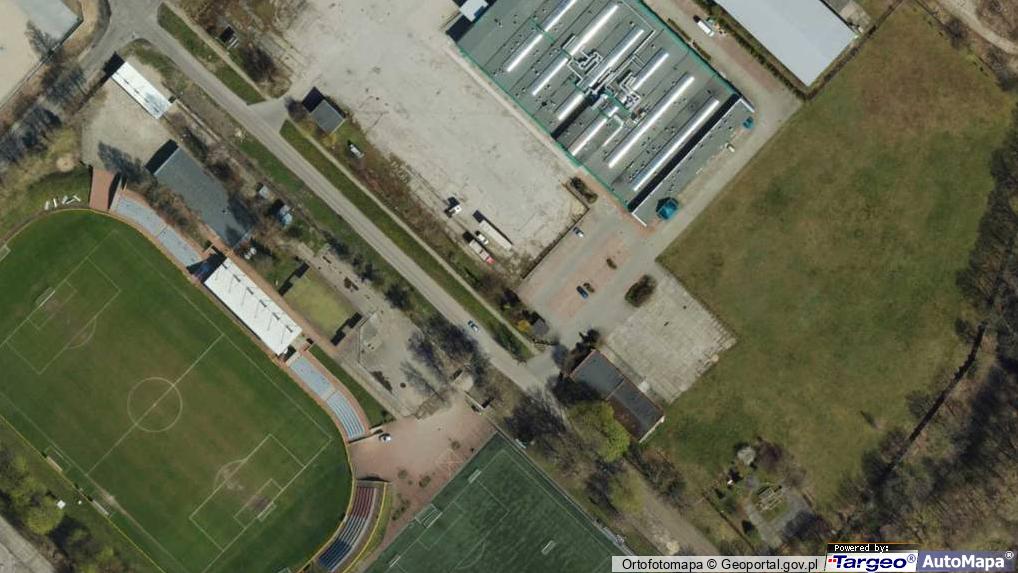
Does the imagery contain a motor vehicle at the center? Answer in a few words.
Yes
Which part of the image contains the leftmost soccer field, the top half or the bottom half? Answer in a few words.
bottom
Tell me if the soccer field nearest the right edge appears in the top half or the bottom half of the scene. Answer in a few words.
bottom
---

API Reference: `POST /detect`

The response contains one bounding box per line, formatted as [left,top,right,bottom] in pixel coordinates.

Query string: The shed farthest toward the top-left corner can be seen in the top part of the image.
[111,61,171,118]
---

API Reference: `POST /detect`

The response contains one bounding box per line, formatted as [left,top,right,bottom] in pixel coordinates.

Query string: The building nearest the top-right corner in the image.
[714,0,858,86]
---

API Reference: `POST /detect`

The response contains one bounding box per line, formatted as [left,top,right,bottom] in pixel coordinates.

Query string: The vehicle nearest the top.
[698,19,713,35]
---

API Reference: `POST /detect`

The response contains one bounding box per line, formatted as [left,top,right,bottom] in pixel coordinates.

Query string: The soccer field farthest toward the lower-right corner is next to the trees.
[367,436,654,573]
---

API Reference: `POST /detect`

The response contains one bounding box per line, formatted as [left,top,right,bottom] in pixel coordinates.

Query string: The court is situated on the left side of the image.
[283,267,362,342]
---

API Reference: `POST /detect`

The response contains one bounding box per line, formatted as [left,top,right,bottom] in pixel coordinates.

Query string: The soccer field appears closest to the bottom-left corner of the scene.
[0,209,351,573]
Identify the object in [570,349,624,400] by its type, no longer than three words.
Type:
house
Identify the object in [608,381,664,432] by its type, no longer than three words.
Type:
building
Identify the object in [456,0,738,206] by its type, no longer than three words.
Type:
building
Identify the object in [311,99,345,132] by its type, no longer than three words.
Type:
shed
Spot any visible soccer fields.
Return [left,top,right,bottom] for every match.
[0,209,351,573]
[367,436,654,573]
